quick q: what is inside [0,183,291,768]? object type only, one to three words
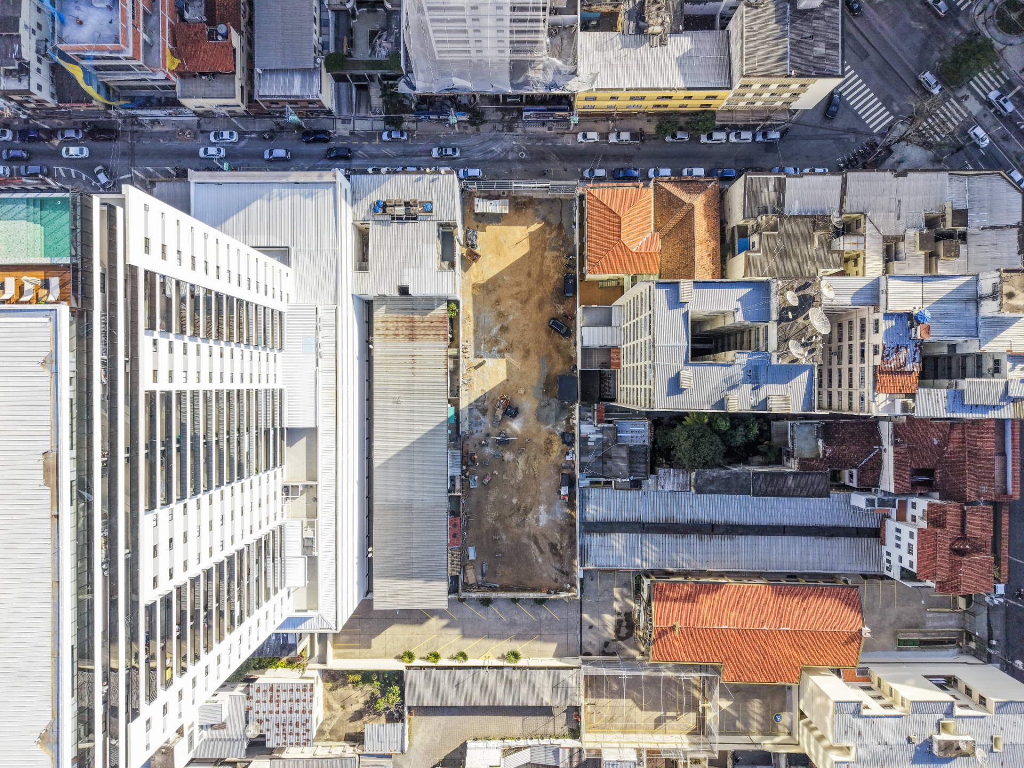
building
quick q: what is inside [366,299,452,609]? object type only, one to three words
shed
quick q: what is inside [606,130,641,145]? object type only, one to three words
vehicle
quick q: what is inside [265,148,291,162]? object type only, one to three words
car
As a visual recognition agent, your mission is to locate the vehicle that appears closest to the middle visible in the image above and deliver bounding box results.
[488,391,515,430]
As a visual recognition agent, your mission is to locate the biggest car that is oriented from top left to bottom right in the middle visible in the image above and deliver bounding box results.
[546,317,574,340]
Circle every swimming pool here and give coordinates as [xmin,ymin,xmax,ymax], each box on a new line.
[0,194,63,257]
